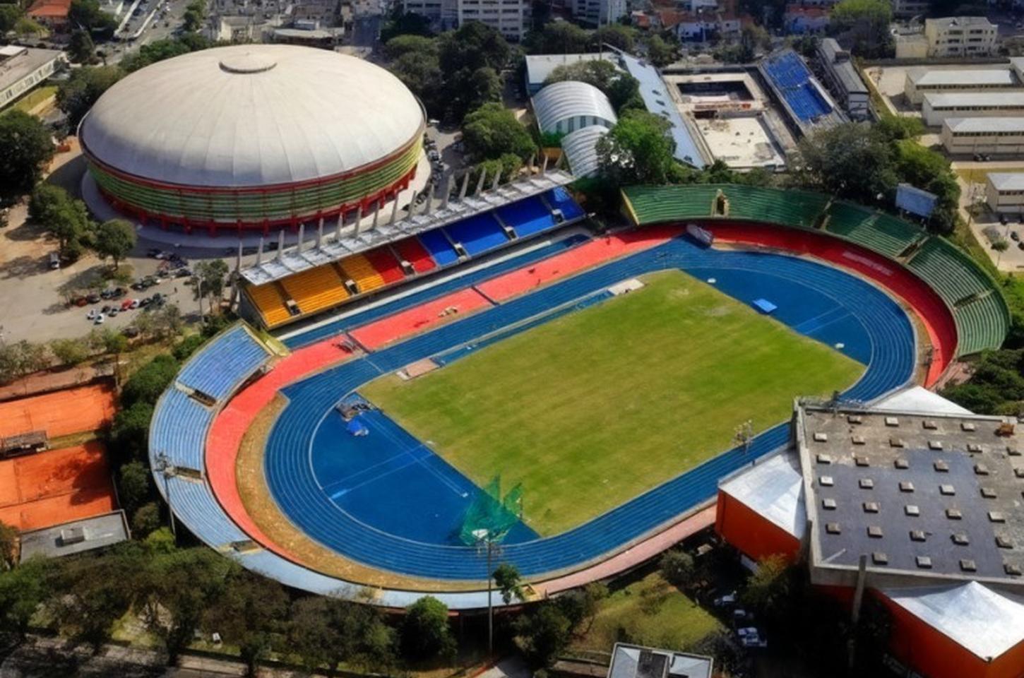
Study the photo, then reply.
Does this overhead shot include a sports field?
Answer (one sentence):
Yes, the image includes a sports field.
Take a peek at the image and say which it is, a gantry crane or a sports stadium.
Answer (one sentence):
Visible in the photo is a sports stadium.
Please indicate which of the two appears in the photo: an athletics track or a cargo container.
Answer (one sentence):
The one in the frame is an athletics track.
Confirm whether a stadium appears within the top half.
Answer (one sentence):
Yes, a stadium shows up within the top half.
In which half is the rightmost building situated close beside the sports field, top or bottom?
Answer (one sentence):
The rightmost building situated close beside the sports field is in the bottom half of the image.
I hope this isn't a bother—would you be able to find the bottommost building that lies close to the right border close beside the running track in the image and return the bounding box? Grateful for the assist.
[717,388,1024,678]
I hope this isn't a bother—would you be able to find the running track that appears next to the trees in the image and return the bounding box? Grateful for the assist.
[264,248,914,579]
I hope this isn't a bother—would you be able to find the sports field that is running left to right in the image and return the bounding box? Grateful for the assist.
[357,267,865,536]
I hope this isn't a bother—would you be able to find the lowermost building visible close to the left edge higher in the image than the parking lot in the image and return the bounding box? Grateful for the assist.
[0,42,64,108]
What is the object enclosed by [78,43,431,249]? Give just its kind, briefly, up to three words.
stadium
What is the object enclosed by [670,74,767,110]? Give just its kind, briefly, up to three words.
swimming pool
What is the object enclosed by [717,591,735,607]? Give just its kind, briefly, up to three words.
car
